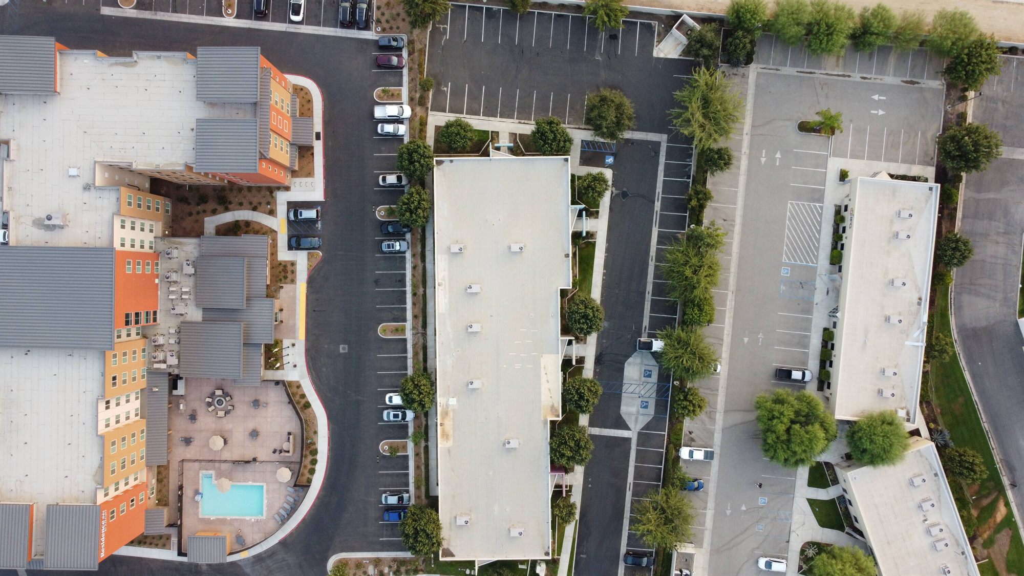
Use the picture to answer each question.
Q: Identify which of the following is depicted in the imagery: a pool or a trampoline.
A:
pool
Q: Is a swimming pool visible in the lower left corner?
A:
Yes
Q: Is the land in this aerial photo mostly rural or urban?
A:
urban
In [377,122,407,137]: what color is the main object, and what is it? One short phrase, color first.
white car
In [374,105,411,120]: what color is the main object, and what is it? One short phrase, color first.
white vehicle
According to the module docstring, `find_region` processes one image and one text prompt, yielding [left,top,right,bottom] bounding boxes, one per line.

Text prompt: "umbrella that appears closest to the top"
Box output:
[209,435,225,451]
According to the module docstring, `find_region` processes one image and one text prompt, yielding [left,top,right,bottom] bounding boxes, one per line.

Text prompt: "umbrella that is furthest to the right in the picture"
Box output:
[276,467,292,482]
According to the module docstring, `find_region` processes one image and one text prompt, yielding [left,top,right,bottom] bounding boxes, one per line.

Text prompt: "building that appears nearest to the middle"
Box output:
[434,140,589,576]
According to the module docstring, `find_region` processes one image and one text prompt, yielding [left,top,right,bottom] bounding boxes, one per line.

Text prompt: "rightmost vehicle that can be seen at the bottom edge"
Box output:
[756,556,787,571]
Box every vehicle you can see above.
[0,214,8,228]
[339,0,353,28]
[385,392,411,406]
[355,0,369,29]
[290,207,322,221]
[374,105,411,120]
[381,239,409,253]
[678,445,714,460]
[705,360,721,374]
[377,54,406,69]
[291,236,323,250]
[756,556,787,571]
[623,552,654,567]
[0,229,8,244]
[773,367,812,383]
[256,0,269,19]
[383,408,416,422]
[379,173,409,187]
[384,508,409,520]
[377,122,407,137]
[290,0,304,22]
[381,220,411,234]
[378,36,405,50]
[635,337,670,353]
[382,491,411,505]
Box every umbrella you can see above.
[216,477,231,493]
[276,467,292,482]
[209,435,225,451]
